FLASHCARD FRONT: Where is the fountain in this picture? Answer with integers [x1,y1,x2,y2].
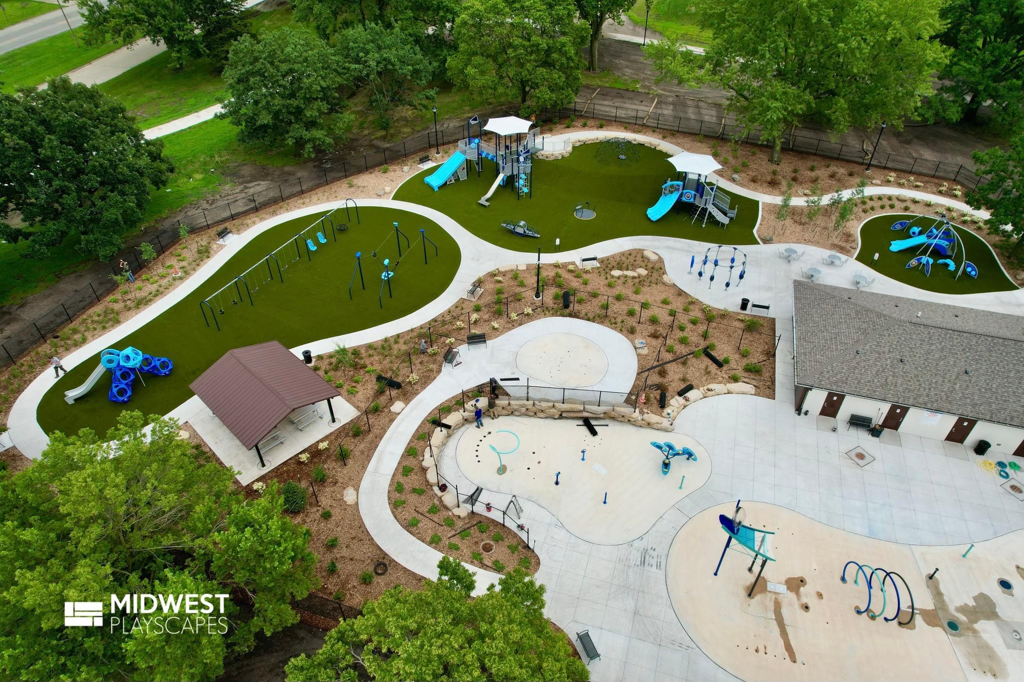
[645,441,701,477]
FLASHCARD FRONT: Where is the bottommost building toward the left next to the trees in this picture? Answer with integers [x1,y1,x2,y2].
[188,343,348,469]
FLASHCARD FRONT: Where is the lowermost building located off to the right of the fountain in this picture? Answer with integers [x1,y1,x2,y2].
[793,280,1024,455]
